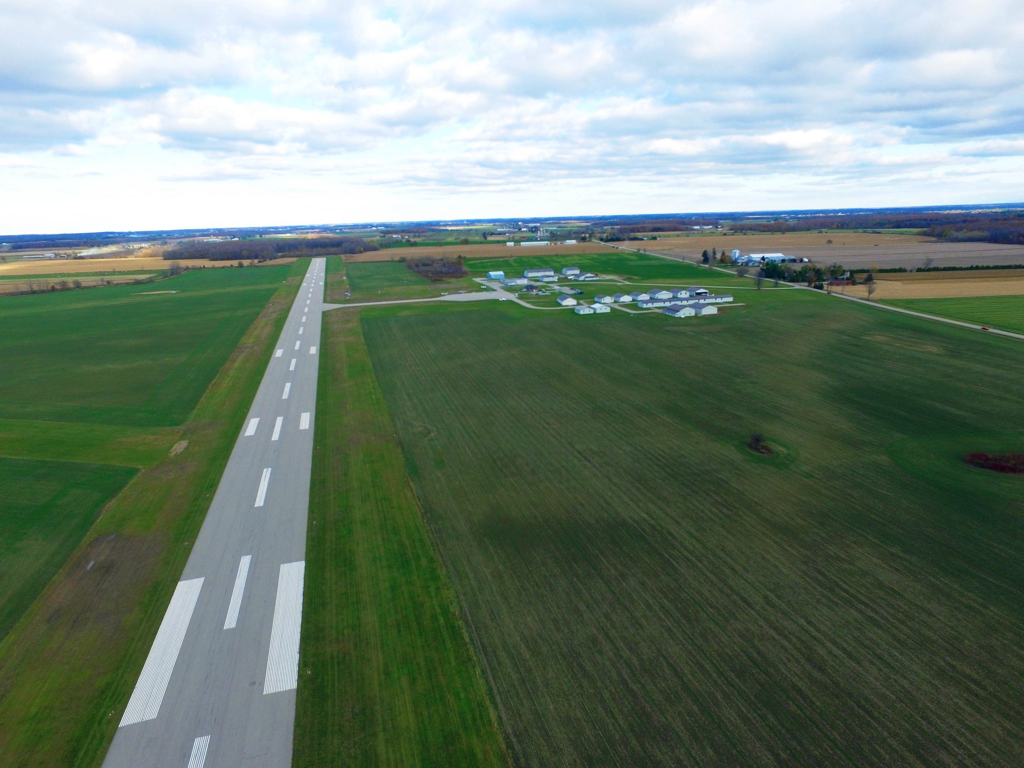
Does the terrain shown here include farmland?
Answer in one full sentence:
Yes, farmland can be seen from above here.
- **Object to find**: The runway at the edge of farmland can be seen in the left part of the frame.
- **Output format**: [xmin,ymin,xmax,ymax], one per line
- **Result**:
[102,258,325,768]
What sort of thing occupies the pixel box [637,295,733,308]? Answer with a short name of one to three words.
hangar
